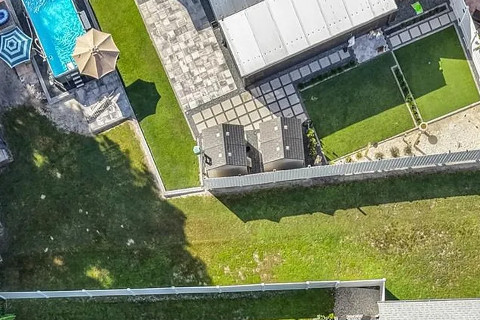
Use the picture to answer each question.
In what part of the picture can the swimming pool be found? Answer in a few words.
top left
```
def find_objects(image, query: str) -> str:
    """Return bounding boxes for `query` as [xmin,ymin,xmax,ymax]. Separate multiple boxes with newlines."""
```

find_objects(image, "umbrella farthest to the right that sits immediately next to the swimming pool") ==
[72,31,121,80]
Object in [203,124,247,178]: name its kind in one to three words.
shed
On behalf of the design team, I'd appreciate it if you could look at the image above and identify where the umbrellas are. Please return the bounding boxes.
[72,31,121,80]
[0,30,33,69]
